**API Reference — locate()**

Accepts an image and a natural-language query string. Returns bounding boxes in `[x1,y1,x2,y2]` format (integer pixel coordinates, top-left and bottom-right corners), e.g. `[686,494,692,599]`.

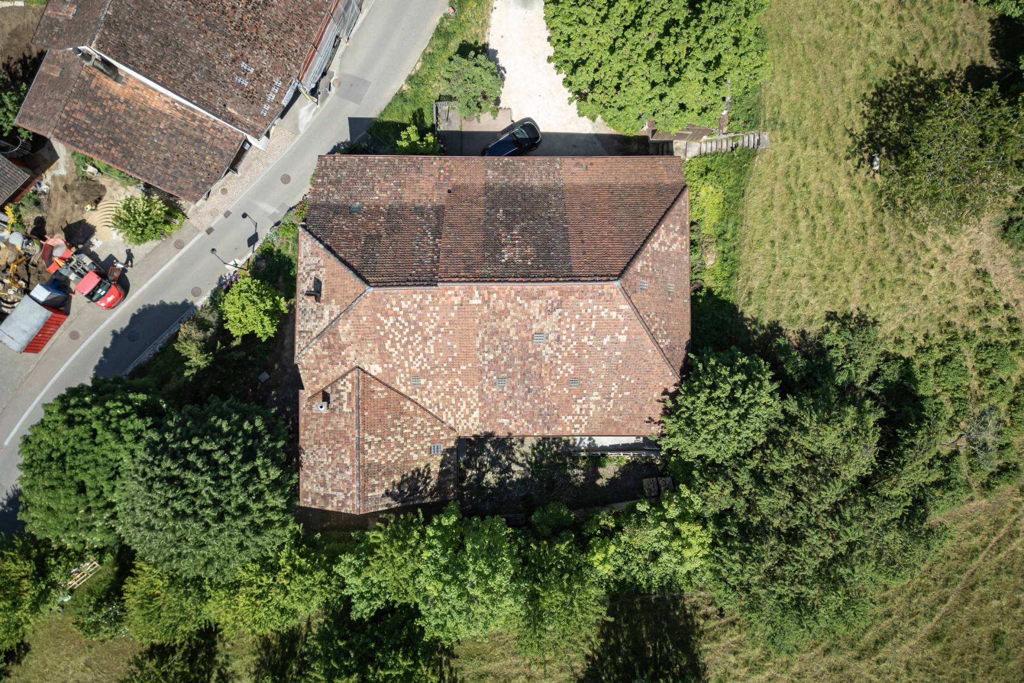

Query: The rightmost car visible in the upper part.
[475,116,543,154]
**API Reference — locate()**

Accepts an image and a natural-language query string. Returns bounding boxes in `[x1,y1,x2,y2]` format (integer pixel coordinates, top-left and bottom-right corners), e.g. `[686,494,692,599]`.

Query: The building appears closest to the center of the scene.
[294,154,693,514]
